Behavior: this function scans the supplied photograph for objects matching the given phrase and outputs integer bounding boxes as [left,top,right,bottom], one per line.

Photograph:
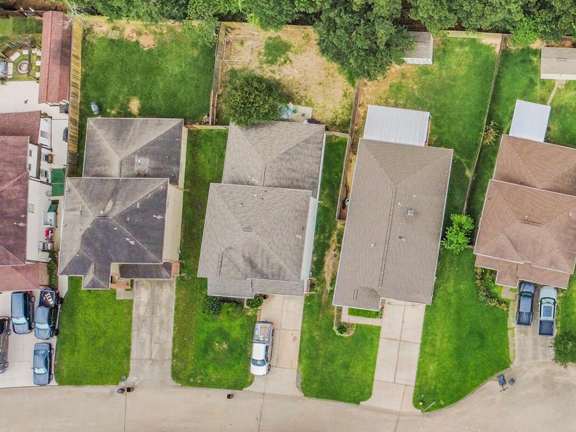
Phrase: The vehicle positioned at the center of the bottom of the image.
[250,321,274,375]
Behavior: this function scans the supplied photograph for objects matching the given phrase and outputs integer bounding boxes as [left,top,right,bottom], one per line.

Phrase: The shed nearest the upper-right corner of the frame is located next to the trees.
[541,47,576,76]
